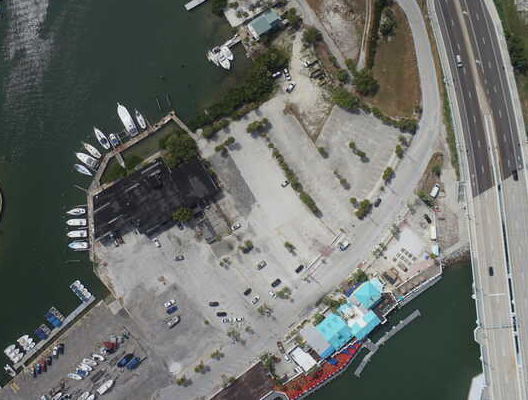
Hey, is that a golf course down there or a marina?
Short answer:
marina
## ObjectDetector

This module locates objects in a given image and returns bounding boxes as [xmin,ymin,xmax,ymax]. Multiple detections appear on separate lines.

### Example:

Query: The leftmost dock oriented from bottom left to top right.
[15,294,95,366]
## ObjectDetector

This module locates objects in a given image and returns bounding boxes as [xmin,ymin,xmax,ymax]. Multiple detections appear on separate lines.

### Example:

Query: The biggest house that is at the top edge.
[249,13,275,37]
